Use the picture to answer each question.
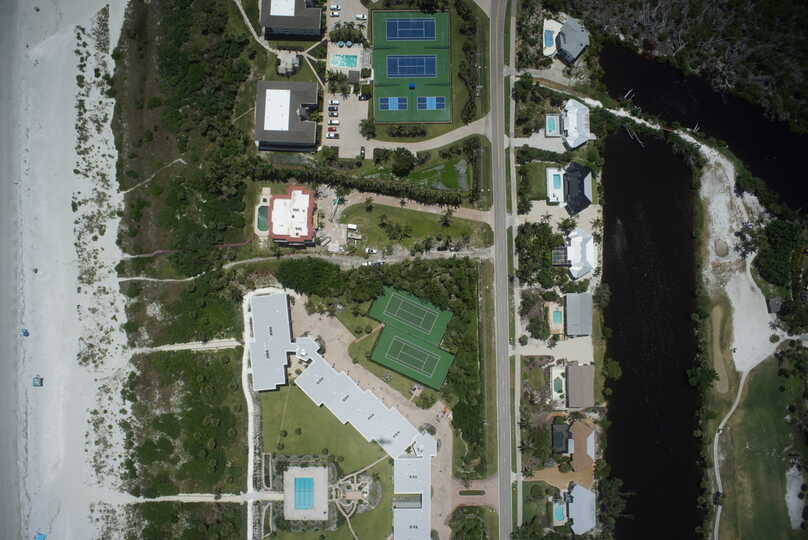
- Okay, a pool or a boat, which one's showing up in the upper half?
pool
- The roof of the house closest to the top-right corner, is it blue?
No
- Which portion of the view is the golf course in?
bottom right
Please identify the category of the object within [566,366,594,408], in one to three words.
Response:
house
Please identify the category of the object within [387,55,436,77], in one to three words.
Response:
tennis court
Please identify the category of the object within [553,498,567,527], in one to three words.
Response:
swimming pool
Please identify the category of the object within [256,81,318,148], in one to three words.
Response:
building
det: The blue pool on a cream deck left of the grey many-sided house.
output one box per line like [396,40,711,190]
[544,19,562,55]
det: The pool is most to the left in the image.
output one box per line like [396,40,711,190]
[255,201,270,237]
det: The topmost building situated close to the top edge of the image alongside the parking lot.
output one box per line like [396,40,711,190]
[262,0,321,34]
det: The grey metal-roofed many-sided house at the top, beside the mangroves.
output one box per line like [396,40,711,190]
[558,13,589,59]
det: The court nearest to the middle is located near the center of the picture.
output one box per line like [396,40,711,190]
[384,293,439,334]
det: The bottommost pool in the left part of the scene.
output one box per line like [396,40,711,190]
[284,467,327,520]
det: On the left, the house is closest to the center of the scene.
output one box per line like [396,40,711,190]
[270,187,317,242]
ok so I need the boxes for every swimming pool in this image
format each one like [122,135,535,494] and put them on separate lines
[544,19,562,55]
[284,467,327,520]
[545,302,563,339]
[552,425,567,452]
[546,167,563,204]
[255,201,270,237]
[553,498,567,527]
[552,366,566,410]
[545,114,560,136]
[327,42,362,73]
